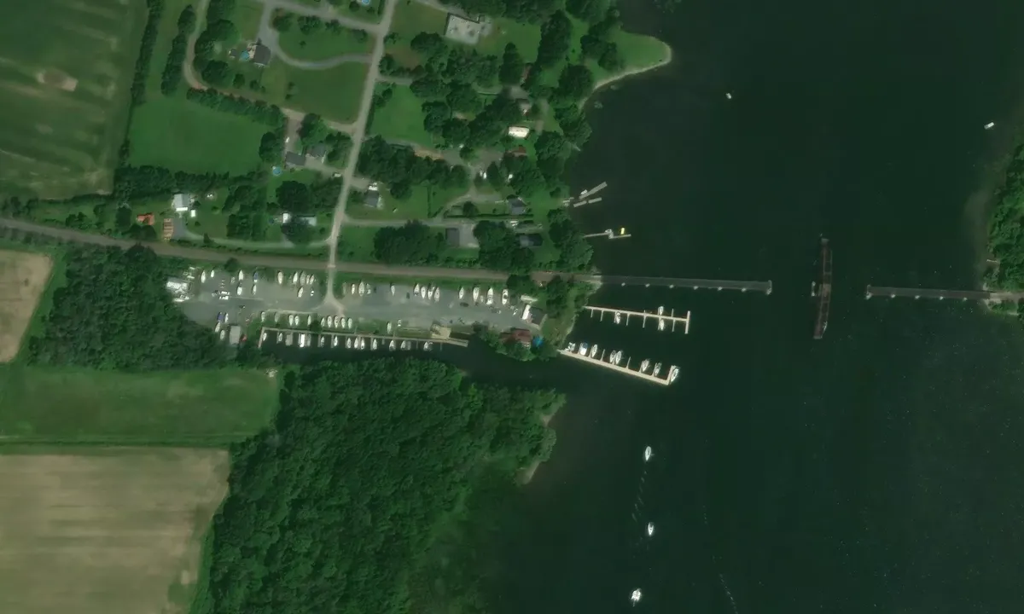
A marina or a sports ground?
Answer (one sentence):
It's a marina.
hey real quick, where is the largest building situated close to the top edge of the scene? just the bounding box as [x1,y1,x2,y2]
[445,14,479,45]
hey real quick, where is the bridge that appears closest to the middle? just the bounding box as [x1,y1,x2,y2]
[590,274,773,293]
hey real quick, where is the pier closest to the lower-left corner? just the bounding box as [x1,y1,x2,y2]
[258,327,468,351]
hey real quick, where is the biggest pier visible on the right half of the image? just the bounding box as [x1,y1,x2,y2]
[558,343,674,386]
